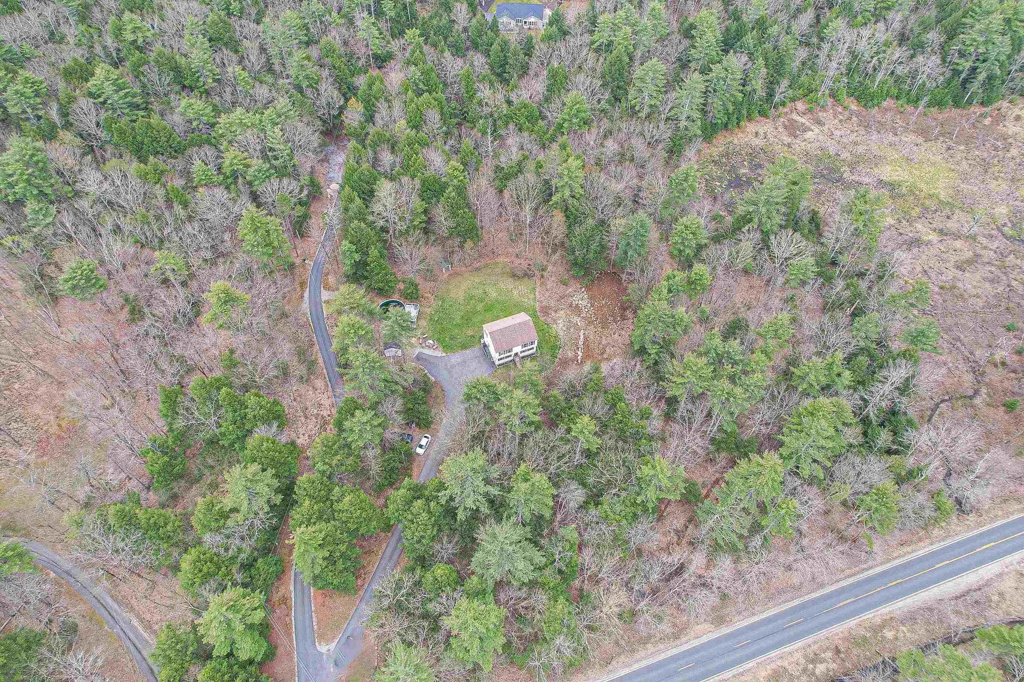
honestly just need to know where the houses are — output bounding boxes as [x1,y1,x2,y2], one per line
[497,4,545,35]
[481,313,538,371]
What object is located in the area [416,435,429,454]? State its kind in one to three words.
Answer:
vehicle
